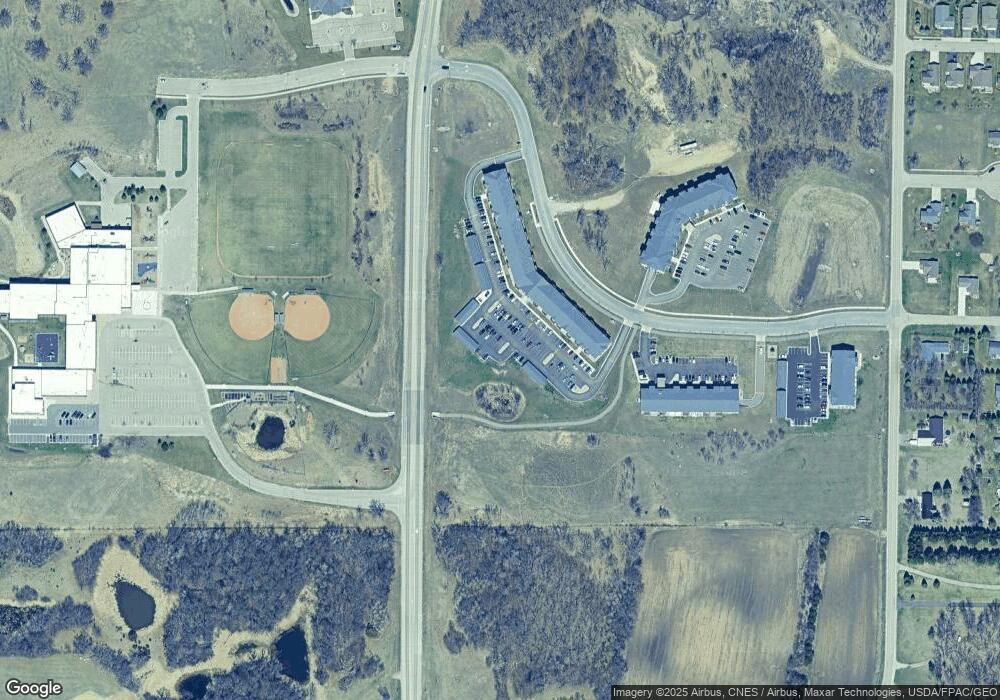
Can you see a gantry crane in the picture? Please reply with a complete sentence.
No, there appears to be no gantry crane in this shot.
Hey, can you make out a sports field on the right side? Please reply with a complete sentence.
No, I can find no sports field on the right side.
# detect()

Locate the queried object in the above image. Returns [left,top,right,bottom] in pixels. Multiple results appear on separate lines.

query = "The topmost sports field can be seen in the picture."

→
[218,140,349,275]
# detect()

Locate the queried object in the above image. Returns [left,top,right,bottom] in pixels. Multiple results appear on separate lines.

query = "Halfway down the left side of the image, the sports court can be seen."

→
[35,332,59,363]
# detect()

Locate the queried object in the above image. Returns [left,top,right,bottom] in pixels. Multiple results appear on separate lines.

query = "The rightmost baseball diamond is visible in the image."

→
[284,291,375,385]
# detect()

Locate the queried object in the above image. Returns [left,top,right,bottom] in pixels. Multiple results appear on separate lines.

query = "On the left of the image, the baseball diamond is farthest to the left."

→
[187,291,275,385]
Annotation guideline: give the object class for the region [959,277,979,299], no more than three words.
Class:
house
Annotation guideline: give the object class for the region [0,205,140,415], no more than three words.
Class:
building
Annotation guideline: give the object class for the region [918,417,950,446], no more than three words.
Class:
house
